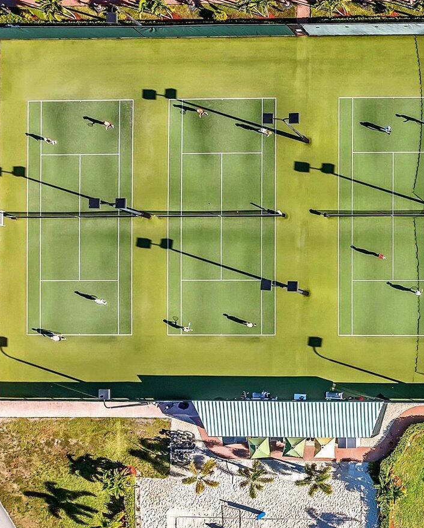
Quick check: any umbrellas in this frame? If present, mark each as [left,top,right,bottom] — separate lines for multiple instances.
[286,437,307,458]
[315,437,336,457]
[250,437,271,458]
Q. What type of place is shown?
sports ground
